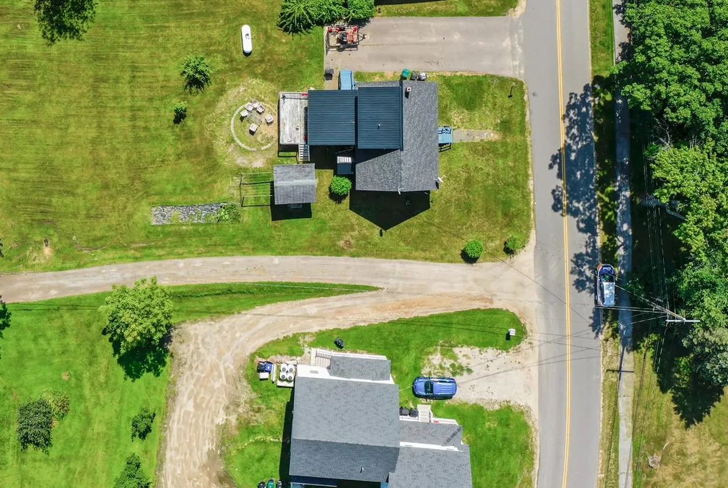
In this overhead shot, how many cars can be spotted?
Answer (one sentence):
The picture shows 2 cars.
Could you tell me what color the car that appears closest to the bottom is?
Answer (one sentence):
The car that appears closest to the bottom is blue.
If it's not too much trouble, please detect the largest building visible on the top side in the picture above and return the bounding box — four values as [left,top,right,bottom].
[307,80,439,193]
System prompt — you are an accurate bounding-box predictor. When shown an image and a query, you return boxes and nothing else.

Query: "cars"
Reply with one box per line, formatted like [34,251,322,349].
[411,377,457,401]
[593,263,618,308]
